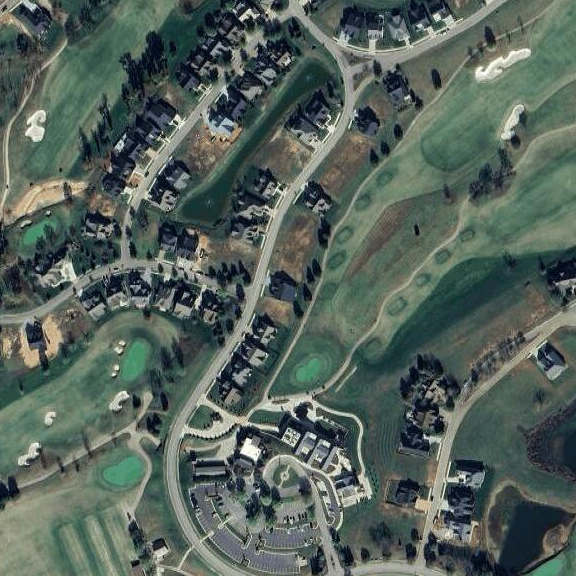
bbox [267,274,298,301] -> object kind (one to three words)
house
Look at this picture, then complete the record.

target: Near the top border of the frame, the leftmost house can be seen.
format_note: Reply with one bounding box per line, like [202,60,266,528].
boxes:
[22,3,48,33]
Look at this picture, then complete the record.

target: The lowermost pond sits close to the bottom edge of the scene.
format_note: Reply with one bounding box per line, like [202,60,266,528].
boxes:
[501,500,575,576]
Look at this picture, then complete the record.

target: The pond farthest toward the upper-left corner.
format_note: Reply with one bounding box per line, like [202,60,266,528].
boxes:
[180,57,331,225]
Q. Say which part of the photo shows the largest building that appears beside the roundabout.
bottom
